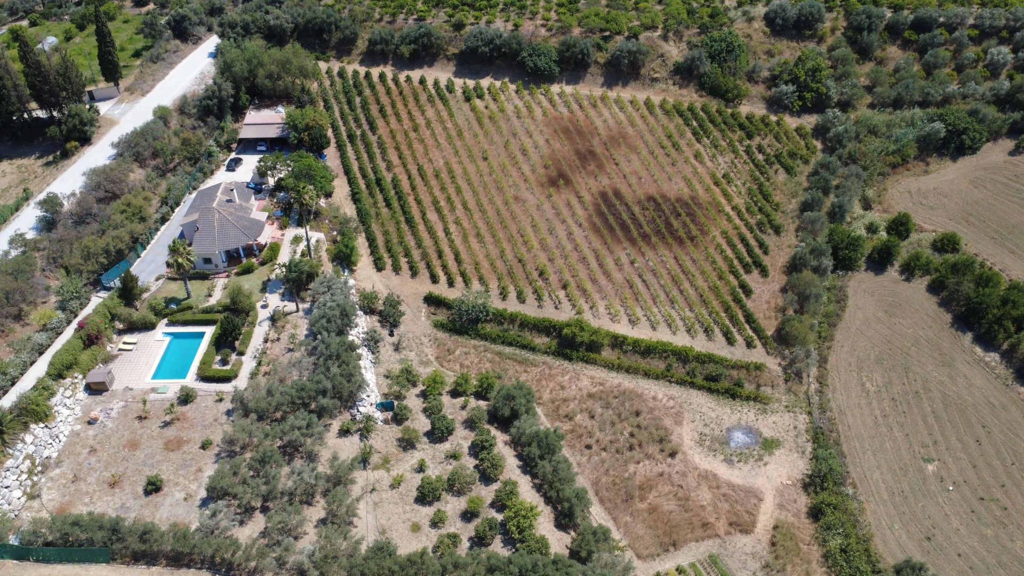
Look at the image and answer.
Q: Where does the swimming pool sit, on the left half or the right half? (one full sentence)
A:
It is on the left.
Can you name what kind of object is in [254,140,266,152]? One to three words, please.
vehicle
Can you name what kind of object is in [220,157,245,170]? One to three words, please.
vehicle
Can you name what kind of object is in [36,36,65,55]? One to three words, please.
greenhouse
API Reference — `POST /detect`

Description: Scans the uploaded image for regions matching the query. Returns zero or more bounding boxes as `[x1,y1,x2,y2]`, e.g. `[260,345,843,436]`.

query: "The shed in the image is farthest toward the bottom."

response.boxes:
[84,368,118,393]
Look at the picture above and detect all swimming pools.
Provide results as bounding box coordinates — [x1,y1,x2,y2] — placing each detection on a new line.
[146,328,212,383]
